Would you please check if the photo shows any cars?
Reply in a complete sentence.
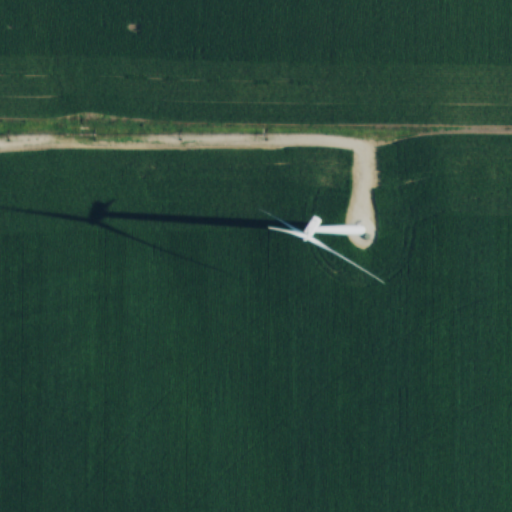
No, I find no car anywhere in the image.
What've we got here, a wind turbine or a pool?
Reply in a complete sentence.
Visible in the photo is a wind turbine.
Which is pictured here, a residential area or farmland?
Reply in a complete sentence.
The picture captures farmland.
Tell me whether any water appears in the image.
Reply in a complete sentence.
No, there is no water in the image.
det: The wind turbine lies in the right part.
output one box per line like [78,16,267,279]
[257,210,386,284]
